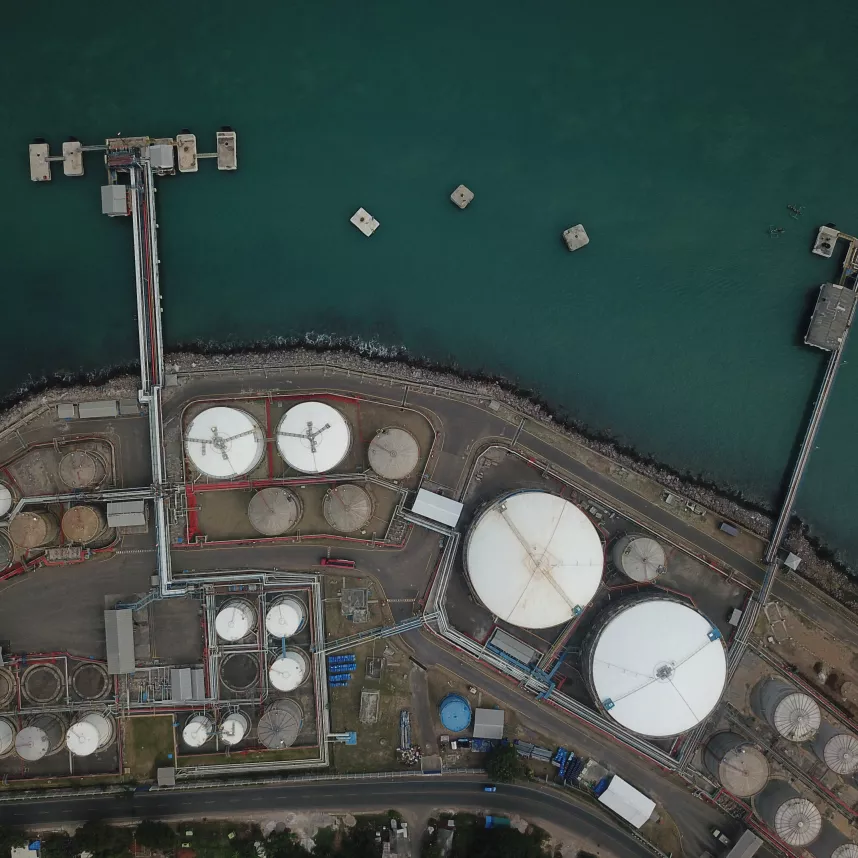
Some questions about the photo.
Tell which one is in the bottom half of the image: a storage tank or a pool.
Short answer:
storage tank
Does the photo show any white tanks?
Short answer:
Yes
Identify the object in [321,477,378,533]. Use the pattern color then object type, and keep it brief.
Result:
gray storage tank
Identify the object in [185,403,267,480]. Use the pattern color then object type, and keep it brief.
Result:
white storage tank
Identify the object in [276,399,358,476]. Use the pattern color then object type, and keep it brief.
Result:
white storage tank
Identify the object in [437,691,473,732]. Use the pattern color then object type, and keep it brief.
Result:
blue storage tank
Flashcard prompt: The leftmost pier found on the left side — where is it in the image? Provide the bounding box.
[104,136,177,392]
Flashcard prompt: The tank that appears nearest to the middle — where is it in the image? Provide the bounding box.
[366,424,423,483]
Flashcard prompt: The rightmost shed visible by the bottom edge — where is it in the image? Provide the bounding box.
[717,824,763,858]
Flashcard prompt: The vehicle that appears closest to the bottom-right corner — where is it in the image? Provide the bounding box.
[714,830,731,846]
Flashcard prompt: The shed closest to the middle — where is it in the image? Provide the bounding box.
[412,488,463,527]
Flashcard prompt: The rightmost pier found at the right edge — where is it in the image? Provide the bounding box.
[766,240,858,565]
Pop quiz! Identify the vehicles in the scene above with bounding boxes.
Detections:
[714,830,731,846]
[483,786,496,793]
[319,558,355,570]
